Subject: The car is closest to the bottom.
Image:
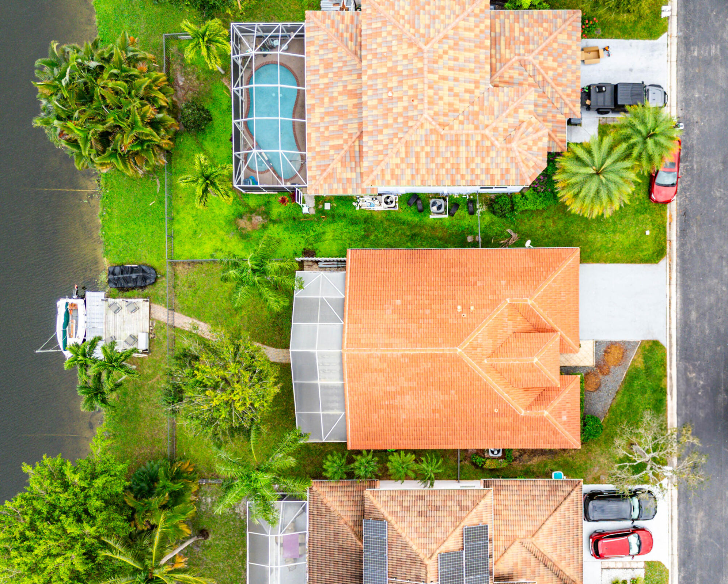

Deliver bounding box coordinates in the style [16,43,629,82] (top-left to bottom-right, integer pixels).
[587,526,654,560]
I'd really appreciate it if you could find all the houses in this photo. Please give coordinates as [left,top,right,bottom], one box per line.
[340,245,582,451]
[304,0,582,197]
[308,477,585,584]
